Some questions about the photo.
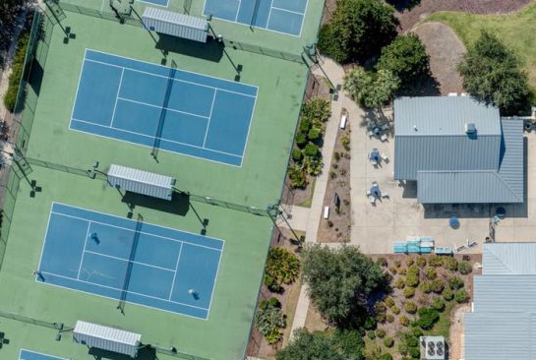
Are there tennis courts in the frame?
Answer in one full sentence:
Yes, I can see a tennis court in this picture.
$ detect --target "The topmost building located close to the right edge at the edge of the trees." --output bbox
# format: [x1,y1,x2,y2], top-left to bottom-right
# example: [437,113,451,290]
[394,97,523,203]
